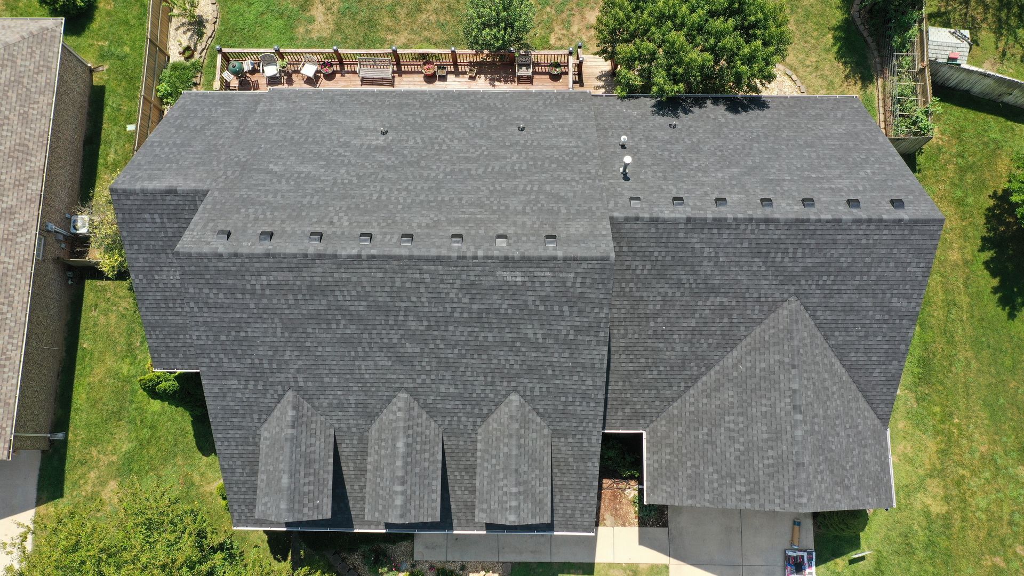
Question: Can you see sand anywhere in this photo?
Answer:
No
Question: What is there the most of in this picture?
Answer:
buildings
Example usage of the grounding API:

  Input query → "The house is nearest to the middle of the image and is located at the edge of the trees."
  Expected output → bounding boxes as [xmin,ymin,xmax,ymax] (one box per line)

[111,88,946,537]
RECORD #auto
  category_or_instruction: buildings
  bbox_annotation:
[928,27,970,67]
[111,88,946,537]
[0,15,99,458]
